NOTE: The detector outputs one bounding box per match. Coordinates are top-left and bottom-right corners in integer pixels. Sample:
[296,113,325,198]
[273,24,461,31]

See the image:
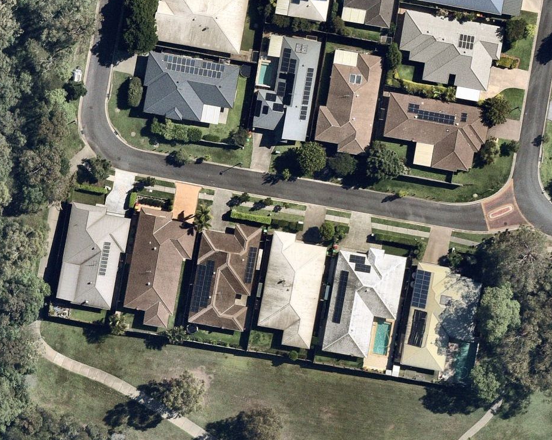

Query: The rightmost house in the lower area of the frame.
[401,262,484,372]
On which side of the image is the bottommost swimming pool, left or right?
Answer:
right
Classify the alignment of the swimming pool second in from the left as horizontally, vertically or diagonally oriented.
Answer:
vertically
